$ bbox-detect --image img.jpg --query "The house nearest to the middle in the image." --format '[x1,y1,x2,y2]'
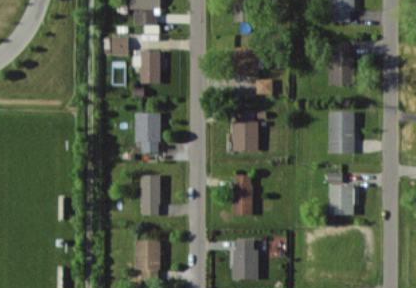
[229,120,260,152]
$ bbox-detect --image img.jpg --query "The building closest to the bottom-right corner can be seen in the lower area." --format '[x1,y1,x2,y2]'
[329,184,355,216]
